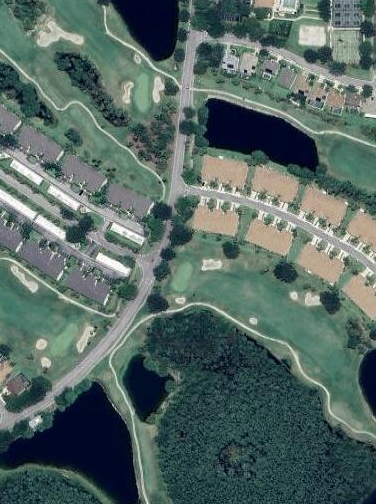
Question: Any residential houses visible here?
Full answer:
Yes, I can see a residential house in this picture.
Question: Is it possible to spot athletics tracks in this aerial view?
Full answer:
No, there isn't any athletics track down there.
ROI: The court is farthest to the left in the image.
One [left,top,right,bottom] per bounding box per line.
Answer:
[299,25,325,46]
